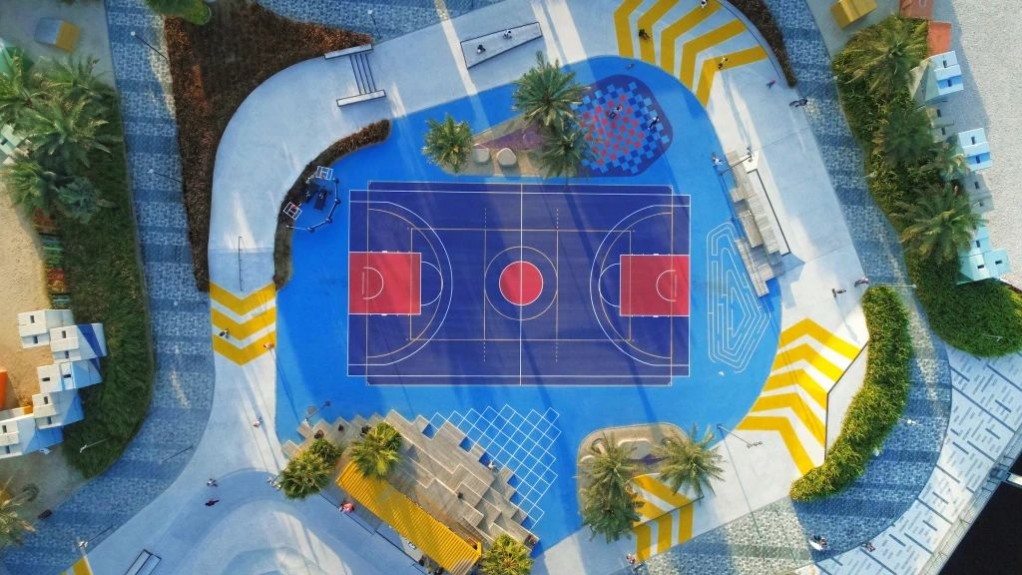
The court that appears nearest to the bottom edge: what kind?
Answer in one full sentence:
I'd identify the court that appears nearest to the bottom edge as a basketball court.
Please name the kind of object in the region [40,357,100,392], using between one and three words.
shed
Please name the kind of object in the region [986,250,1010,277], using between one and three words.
shed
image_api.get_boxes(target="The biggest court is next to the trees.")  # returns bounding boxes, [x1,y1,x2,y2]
[347,180,691,387]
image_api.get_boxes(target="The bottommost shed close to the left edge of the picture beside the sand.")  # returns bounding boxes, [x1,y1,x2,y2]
[0,415,55,458]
